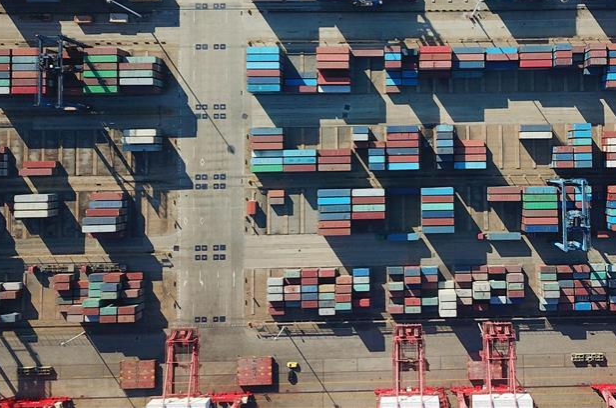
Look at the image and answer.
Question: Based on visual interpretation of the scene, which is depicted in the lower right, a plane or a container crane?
container crane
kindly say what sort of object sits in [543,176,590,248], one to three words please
container crane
